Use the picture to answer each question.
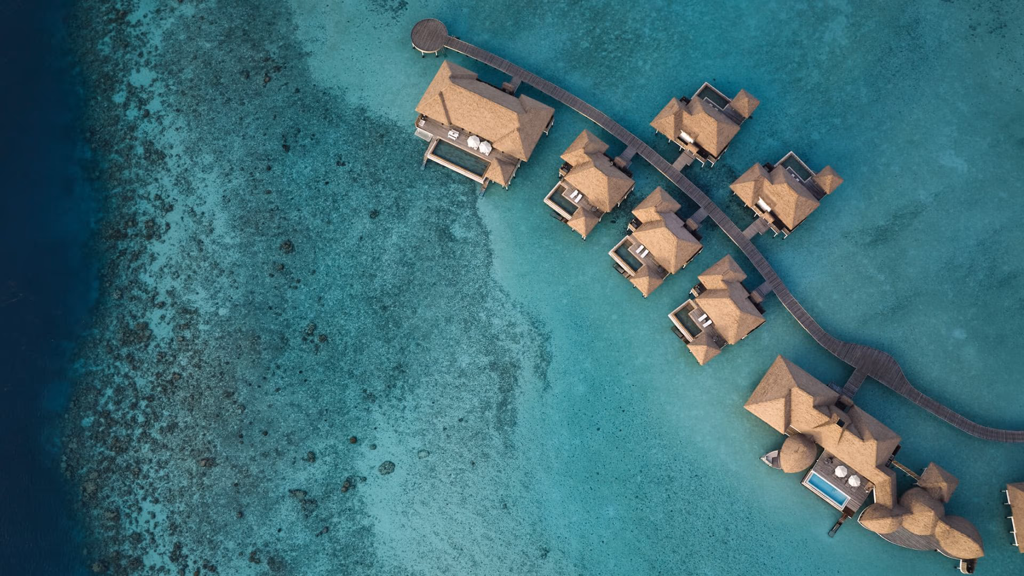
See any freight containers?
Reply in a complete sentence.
No, there isn't any freight container down there.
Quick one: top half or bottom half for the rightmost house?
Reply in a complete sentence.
The rightmost house is in the bottom half of the image.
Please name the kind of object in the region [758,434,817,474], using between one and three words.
building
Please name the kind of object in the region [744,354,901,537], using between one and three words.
house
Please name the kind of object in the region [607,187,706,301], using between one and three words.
house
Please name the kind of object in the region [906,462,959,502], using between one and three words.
shed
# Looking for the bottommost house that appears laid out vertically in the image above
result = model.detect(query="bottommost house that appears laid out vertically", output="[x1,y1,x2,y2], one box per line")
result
[996,483,1024,553]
